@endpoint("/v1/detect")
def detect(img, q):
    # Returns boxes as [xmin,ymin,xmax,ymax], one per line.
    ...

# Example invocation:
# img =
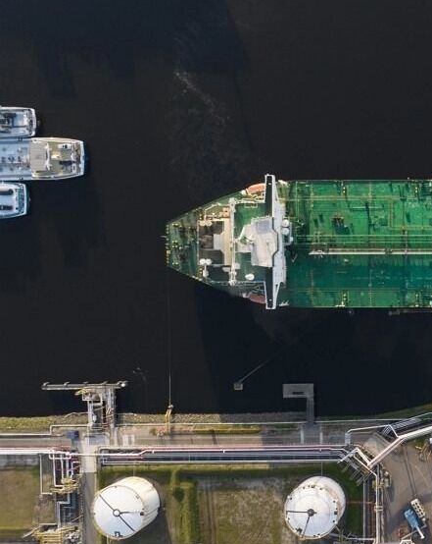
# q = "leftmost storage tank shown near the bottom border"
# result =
[89,476,159,539]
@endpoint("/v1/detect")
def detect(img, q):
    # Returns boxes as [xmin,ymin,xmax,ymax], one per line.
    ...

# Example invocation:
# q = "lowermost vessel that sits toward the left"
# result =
[0,182,31,216]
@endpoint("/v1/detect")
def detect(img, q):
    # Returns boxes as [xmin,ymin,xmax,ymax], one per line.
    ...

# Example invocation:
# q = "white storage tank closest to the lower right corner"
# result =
[284,477,345,540]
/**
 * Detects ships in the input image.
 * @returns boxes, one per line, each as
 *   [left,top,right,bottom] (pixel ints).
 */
[166,173,432,313]
[0,182,31,216]
[0,137,88,180]
[0,106,39,137]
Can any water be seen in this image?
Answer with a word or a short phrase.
Yes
